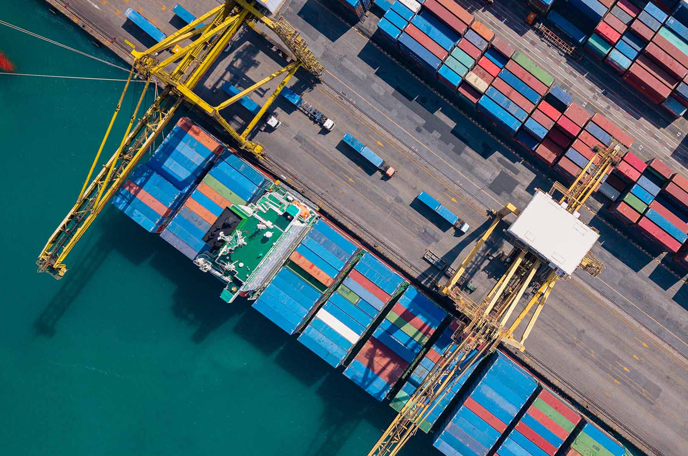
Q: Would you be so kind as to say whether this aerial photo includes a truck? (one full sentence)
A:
Yes, the image includes a truck.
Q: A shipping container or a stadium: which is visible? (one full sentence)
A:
Of the two, only a shipping container appears.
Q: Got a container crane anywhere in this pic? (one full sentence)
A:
Yes, a container crane is visible in the scene.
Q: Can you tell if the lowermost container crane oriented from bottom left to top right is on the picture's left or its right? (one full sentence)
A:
You can find the lowermost container crane oriented from bottom left to top right on the right side of the picture.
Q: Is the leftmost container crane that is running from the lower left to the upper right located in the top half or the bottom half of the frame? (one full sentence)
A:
The top half of the photo is where the leftmost container crane that is running from the lower left to the upper right is.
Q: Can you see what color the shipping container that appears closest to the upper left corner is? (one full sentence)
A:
The shipping container that appears closest to the upper left corner looks blue in the image.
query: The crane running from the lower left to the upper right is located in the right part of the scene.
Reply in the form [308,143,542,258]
[365,141,628,456]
